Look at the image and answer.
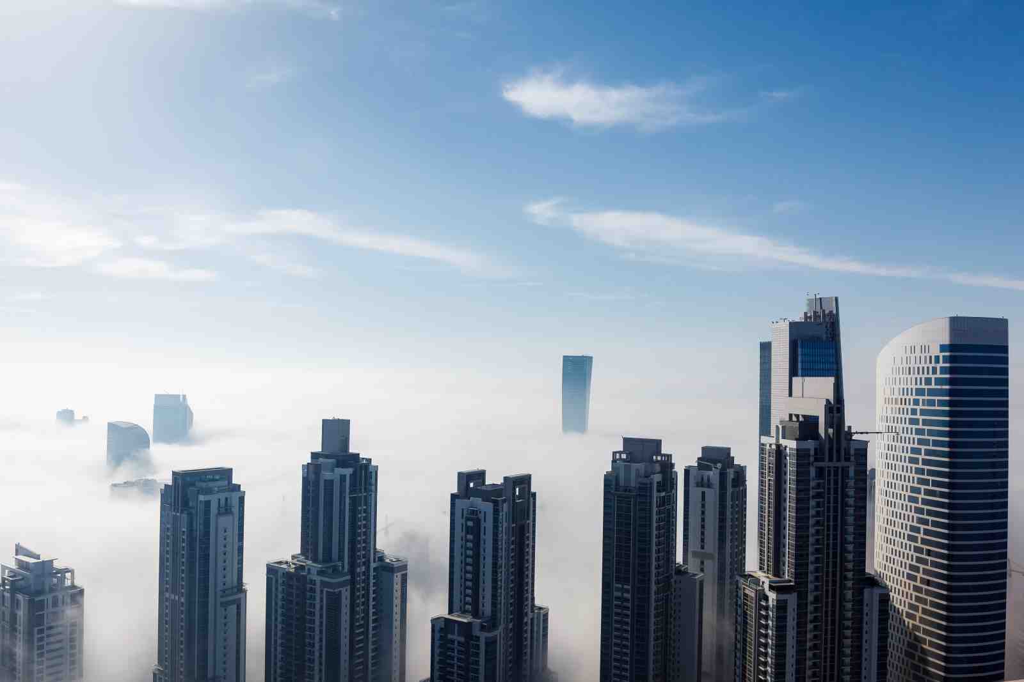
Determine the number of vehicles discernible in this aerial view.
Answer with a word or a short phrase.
0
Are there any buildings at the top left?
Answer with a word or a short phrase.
No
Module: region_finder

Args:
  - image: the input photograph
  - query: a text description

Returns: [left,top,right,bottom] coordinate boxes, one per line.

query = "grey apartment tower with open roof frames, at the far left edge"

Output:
[0,542,86,682]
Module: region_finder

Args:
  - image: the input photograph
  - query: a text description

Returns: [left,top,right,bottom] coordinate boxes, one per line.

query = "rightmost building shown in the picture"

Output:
[872,312,1012,682]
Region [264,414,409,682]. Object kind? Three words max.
building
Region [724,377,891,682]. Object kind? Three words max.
building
